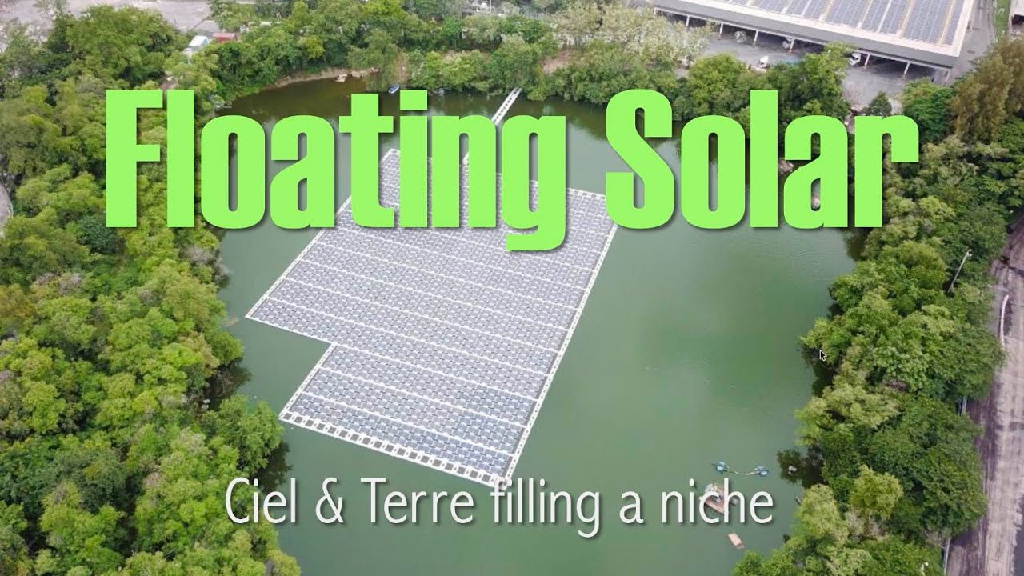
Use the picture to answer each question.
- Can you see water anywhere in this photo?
Yes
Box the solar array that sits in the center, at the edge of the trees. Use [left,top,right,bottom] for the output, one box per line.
[246,149,624,489]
